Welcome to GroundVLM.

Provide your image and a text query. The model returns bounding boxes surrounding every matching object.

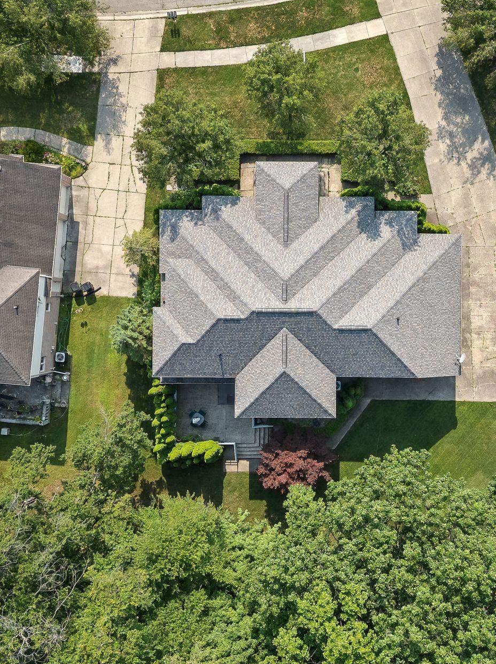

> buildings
[152,160,466,419]
[0,152,72,386]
